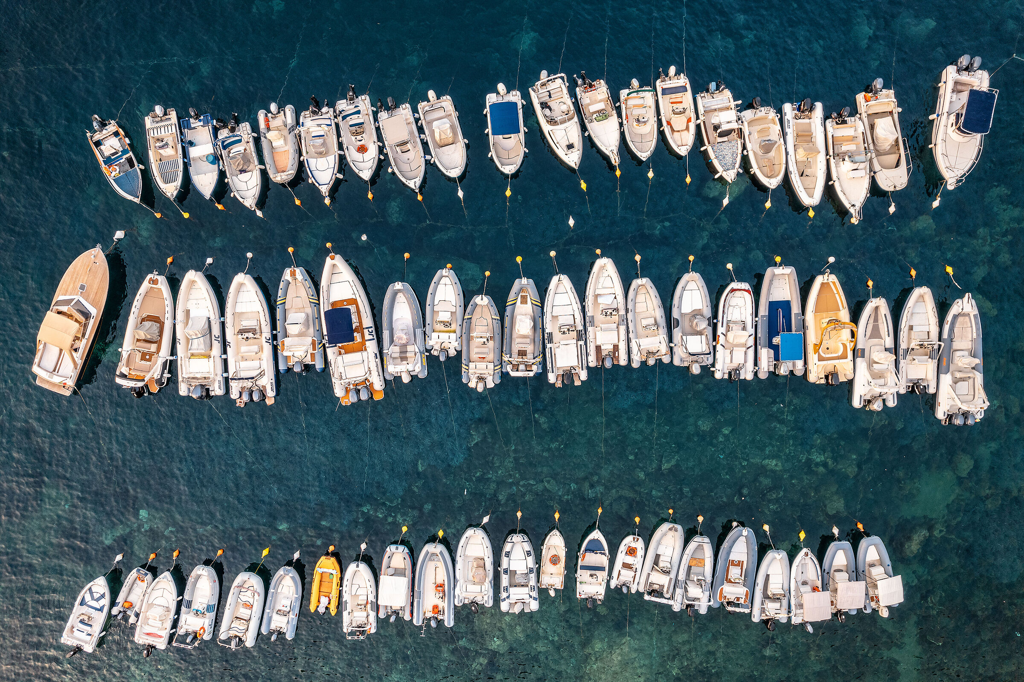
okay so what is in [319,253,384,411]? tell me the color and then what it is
white boat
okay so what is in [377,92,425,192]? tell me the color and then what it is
white boat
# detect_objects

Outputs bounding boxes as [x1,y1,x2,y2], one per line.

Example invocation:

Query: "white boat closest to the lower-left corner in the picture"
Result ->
[62,576,113,660]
